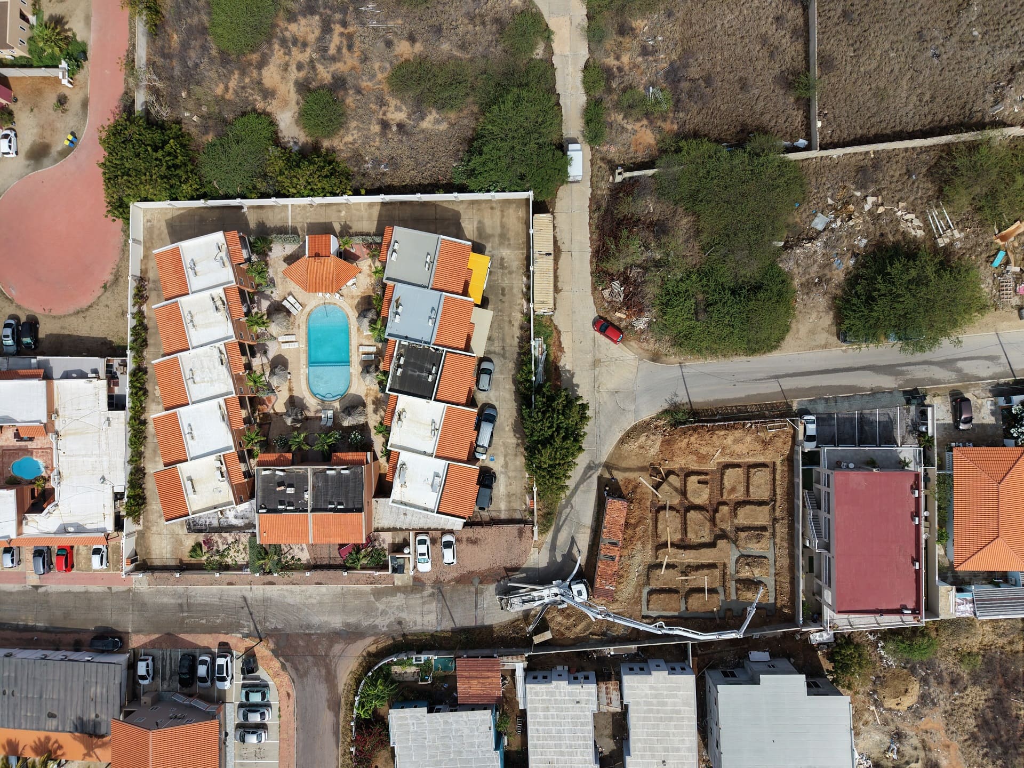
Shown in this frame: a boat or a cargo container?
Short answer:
cargo container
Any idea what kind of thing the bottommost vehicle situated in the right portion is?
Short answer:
truck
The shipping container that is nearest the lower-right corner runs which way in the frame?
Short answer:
from top to bottom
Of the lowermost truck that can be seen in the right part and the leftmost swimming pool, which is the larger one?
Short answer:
the truck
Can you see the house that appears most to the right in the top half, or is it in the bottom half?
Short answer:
bottom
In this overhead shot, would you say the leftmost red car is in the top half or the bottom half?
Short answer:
bottom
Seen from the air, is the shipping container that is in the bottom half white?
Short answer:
No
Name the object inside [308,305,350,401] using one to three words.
swimming pool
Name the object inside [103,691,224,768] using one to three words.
house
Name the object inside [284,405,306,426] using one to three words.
umbrella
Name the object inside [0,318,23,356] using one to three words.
car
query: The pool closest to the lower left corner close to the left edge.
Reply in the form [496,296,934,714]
[11,456,44,480]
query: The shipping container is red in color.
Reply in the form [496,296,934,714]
[590,494,628,602]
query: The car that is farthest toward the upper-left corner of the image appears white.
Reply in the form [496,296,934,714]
[0,128,21,160]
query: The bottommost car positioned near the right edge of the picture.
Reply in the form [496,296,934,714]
[951,396,974,430]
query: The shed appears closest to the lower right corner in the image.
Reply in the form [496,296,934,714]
[929,582,955,618]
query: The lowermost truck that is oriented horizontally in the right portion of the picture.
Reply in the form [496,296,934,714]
[498,550,764,641]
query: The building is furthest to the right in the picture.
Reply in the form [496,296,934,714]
[944,446,1024,573]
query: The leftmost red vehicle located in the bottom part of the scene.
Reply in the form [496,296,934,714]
[54,546,77,576]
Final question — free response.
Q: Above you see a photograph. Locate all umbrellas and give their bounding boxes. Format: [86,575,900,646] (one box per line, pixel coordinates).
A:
[269,365,290,386]
[359,310,379,329]
[361,365,380,384]
[339,400,367,428]
[284,405,306,426]
[268,310,291,333]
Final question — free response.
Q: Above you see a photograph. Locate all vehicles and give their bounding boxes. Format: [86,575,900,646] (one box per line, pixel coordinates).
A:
[18,318,42,352]
[951,396,974,430]
[590,317,626,345]
[0,128,21,160]
[195,651,215,687]
[476,404,498,455]
[440,532,457,567]
[238,653,257,681]
[240,684,273,703]
[477,467,495,510]
[135,653,155,685]
[214,650,234,689]
[0,318,23,356]
[239,703,275,723]
[0,540,22,573]
[54,546,77,576]
[566,141,583,186]
[414,532,432,572]
[235,725,271,746]
[87,633,126,653]
[89,539,111,574]
[176,652,196,687]
[799,413,819,448]
[30,546,55,580]
[477,357,496,393]
[498,550,764,641]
